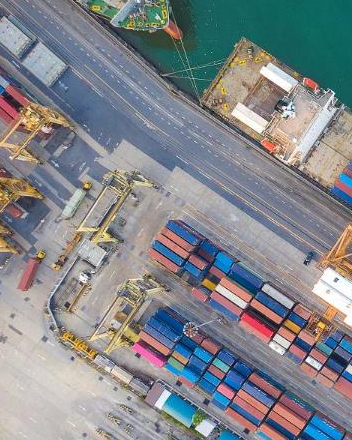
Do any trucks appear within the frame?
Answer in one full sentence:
Yes, looking at the shot, I can spot a truck.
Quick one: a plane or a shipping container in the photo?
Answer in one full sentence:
Looking from above, you can make out a shipping container.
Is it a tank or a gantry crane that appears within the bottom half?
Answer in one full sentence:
You can see a gantry crane within the bottom half.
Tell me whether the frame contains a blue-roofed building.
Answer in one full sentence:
Yes, looking at the shot, I can spot a blue-roofed building.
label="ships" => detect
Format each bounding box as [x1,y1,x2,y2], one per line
[88,0,185,37]
[204,41,352,190]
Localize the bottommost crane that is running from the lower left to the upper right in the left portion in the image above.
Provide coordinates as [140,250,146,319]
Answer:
[83,273,175,359]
